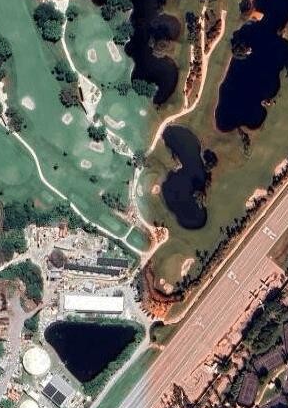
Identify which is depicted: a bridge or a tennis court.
tennis court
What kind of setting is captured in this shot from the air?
golf course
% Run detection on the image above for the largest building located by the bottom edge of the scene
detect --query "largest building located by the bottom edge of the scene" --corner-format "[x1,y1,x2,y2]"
[41,374,76,404]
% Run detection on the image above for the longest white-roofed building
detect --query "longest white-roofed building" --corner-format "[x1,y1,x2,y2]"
[64,295,123,313]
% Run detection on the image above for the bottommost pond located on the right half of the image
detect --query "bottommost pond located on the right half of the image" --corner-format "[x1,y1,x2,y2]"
[162,124,207,230]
